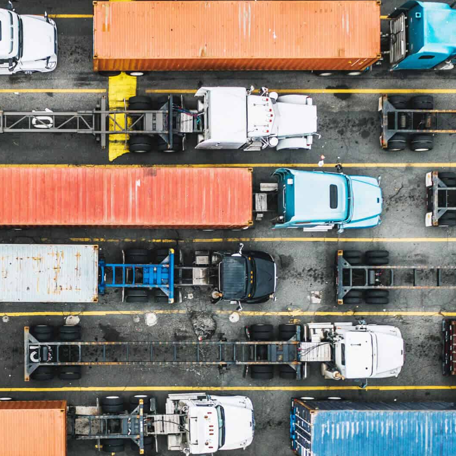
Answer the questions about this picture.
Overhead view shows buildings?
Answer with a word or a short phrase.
No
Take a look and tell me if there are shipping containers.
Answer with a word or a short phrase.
Yes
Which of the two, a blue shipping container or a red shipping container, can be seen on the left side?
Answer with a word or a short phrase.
red shipping container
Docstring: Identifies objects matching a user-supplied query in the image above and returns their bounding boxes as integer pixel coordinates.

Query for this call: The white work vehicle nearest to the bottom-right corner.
[244,318,403,388]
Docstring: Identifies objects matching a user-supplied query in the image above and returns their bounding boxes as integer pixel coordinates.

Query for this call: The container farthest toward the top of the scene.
[91,1,380,70]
